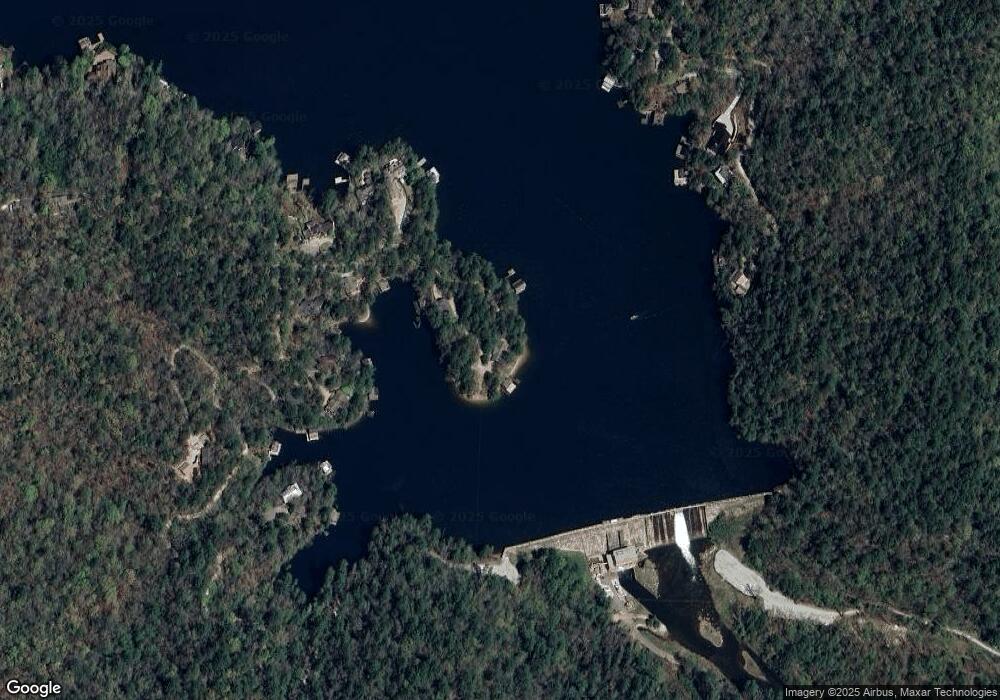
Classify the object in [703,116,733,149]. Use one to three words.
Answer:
house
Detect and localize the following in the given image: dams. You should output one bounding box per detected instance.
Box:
[500,489,777,562]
